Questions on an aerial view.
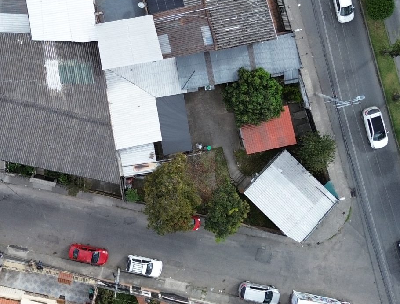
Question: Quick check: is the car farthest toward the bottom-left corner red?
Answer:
Yes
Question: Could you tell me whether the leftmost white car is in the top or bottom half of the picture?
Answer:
bottom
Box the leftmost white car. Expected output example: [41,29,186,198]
[120,251,167,279]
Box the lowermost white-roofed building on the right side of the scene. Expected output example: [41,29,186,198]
[244,150,340,242]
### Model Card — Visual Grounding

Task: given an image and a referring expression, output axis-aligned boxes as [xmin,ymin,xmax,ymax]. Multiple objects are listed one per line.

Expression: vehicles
[235,280,282,304]
[358,102,389,153]
[120,251,167,279]
[65,242,111,268]
[332,0,355,29]
[179,211,207,232]
[279,287,348,304]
